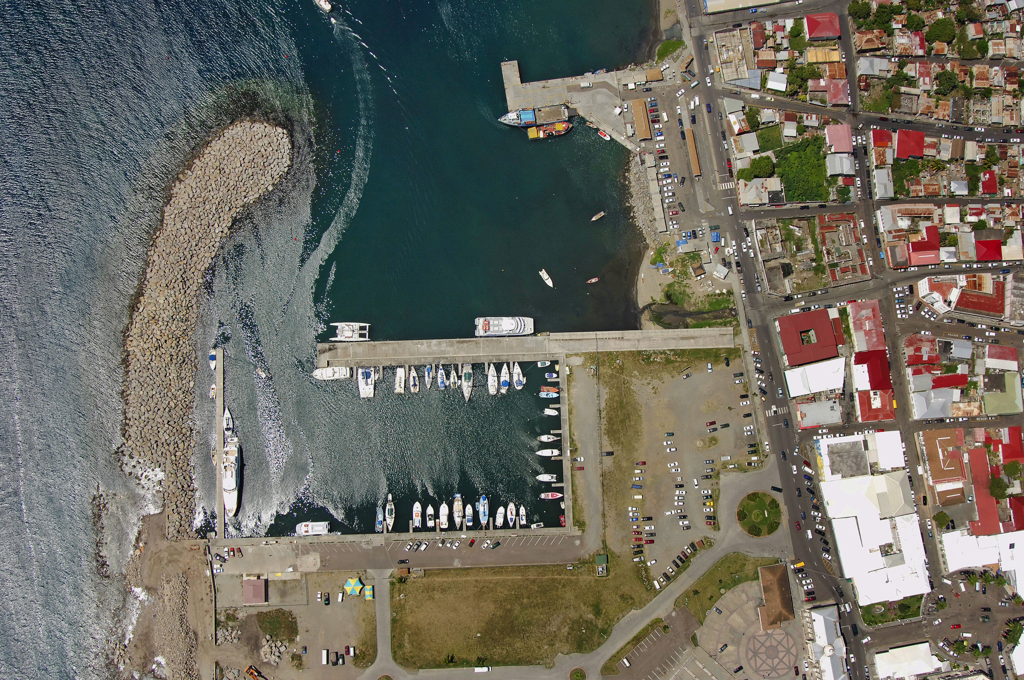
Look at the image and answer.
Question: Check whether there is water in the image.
Yes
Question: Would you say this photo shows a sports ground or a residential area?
residential area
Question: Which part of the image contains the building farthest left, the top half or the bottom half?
bottom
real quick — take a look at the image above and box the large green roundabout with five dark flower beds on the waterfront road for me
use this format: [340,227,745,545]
[736,492,782,537]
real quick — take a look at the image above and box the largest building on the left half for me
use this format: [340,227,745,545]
[243,578,266,603]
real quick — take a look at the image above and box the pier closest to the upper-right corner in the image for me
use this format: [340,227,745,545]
[501,61,641,152]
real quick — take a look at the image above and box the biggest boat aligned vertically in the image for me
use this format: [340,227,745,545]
[222,442,241,517]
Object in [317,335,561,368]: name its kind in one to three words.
pier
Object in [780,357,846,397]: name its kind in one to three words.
building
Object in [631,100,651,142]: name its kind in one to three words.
house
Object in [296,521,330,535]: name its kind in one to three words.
boat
